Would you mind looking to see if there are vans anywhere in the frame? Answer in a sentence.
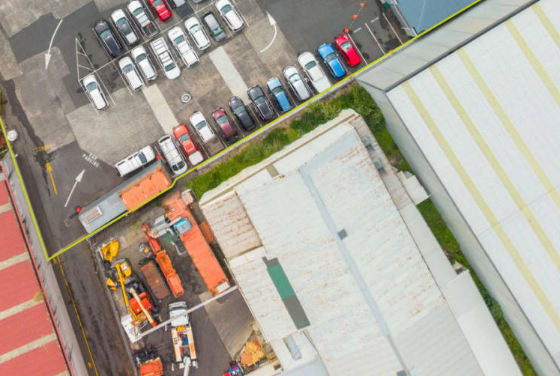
Yes, there's a van down there.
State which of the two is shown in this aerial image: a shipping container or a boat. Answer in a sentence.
The image shows a shipping container.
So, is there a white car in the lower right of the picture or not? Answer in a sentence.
No, the scene shows no white car in the lower right of the picture.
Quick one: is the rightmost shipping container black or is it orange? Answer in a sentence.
The rightmost shipping container is orange.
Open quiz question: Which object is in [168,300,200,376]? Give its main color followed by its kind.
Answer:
white truck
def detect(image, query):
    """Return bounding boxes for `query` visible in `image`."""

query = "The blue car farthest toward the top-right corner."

[319,42,346,80]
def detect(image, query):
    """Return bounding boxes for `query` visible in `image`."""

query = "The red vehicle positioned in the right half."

[334,30,362,69]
